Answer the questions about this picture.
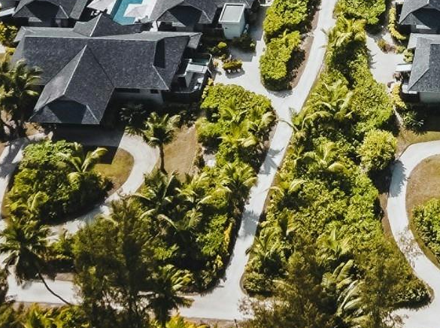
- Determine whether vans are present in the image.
No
